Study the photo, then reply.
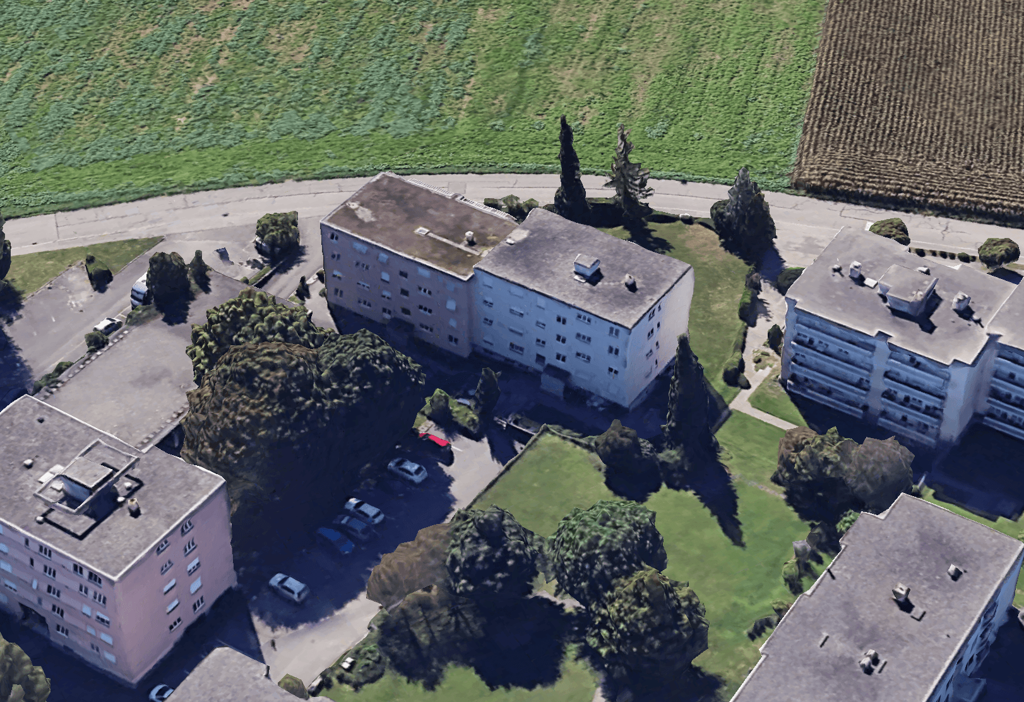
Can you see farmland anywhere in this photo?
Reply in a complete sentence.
Yes, the picture does contain farmland.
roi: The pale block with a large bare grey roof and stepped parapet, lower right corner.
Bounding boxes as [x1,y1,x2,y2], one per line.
[731,492,1024,702]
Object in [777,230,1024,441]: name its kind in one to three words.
building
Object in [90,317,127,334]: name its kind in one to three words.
car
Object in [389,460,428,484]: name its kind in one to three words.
car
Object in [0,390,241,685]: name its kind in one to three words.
building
